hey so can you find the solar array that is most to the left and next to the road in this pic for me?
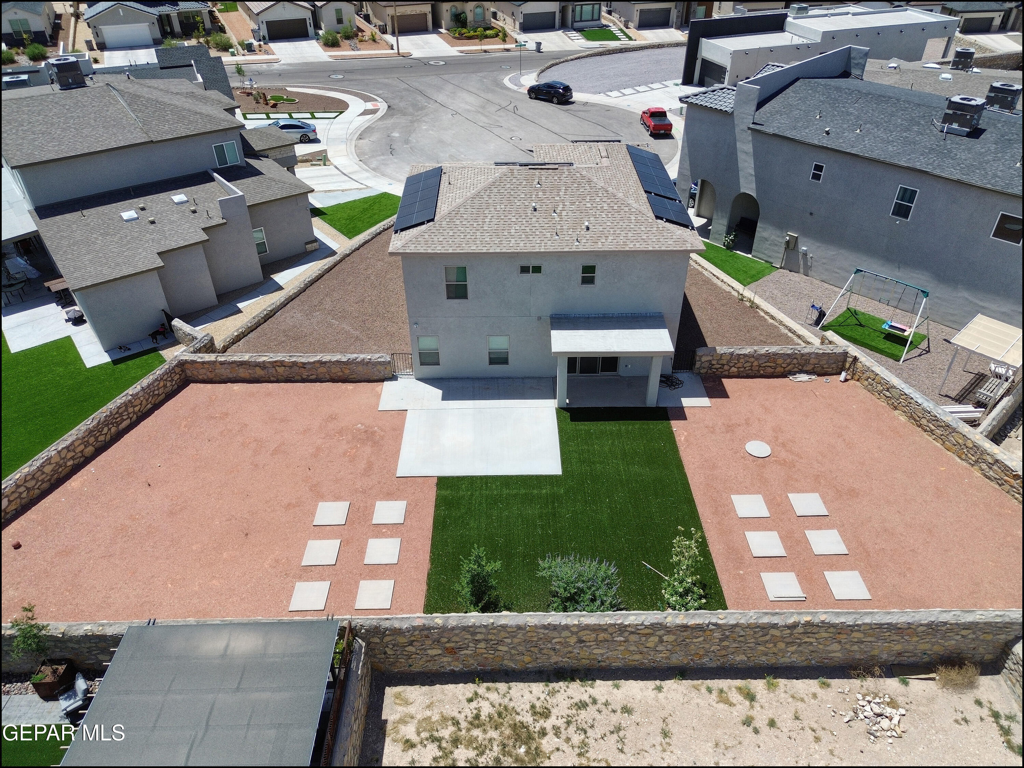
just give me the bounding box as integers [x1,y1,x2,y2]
[393,167,443,233]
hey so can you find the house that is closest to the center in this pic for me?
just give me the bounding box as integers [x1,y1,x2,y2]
[387,138,707,407]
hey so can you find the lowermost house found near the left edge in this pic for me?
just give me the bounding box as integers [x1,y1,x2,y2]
[0,70,324,350]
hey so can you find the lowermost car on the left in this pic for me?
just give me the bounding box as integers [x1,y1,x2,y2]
[260,118,319,141]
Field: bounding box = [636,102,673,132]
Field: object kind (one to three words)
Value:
truck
